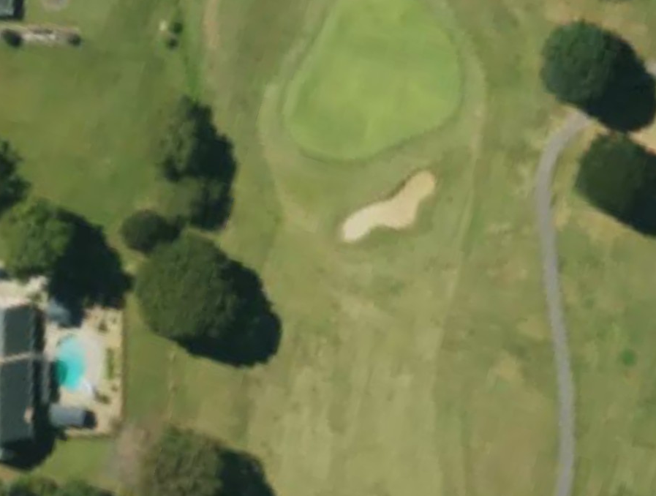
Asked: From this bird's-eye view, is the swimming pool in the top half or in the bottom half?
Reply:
bottom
